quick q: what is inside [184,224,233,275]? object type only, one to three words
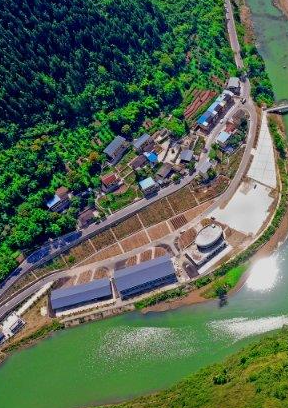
building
